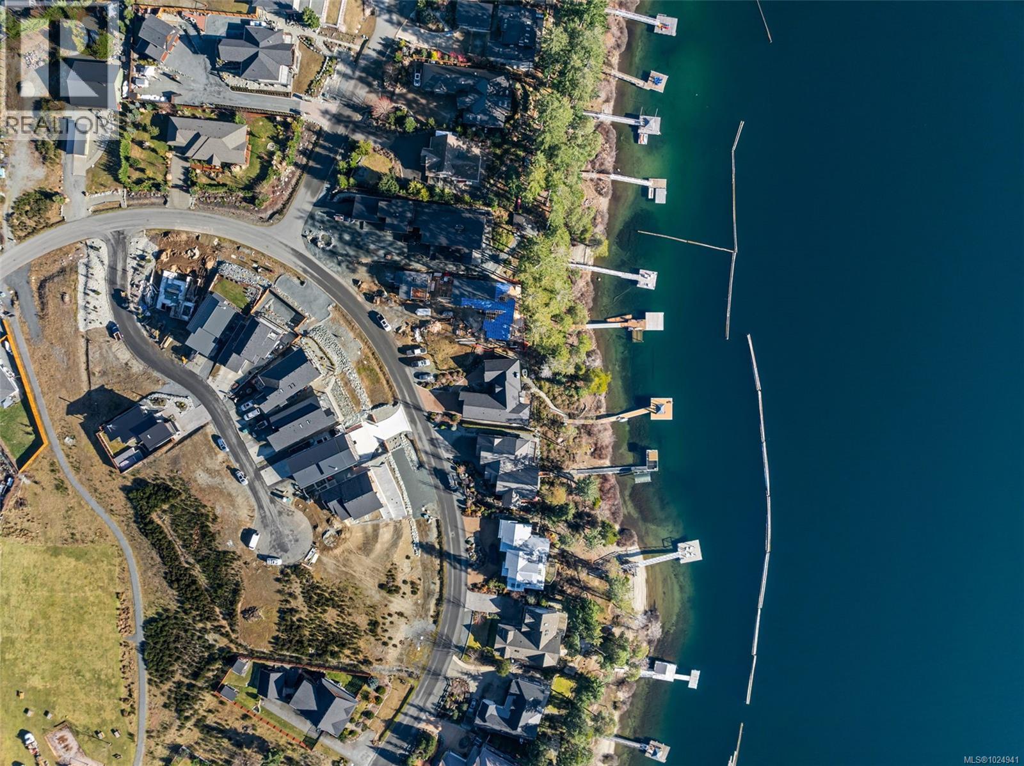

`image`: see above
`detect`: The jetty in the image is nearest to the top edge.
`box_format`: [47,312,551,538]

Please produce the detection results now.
[606,5,679,37]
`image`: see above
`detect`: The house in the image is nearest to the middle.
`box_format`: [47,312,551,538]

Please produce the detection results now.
[458,359,530,424]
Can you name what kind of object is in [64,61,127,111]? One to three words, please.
building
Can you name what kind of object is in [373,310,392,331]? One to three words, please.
vehicle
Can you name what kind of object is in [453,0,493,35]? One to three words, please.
house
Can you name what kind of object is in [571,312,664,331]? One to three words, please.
pier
